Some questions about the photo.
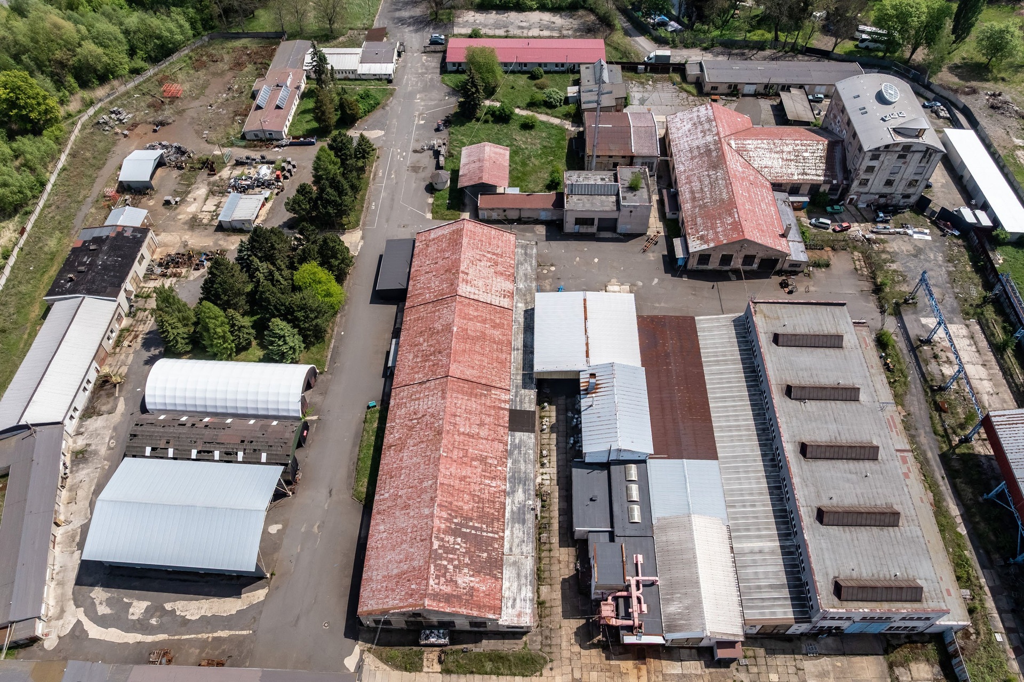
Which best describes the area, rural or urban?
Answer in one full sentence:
The area shown here is urban.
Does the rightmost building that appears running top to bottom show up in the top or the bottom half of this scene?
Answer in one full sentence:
You can find the rightmost building that appears running top to bottom in the bottom half.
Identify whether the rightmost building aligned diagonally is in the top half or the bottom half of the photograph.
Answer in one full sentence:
The top half of the photo is where the rightmost building aligned diagonally is.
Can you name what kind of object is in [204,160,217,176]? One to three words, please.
vehicle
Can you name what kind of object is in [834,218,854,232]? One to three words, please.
car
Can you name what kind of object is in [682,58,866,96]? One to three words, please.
shed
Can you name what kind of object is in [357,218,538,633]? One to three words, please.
building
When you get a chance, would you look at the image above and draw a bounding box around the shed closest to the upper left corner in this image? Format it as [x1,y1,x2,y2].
[118,151,168,192]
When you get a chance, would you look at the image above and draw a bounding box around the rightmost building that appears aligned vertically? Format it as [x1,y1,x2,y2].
[967,411,1024,551]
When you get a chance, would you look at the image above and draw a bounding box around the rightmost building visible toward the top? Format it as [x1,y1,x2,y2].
[938,127,1024,248]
